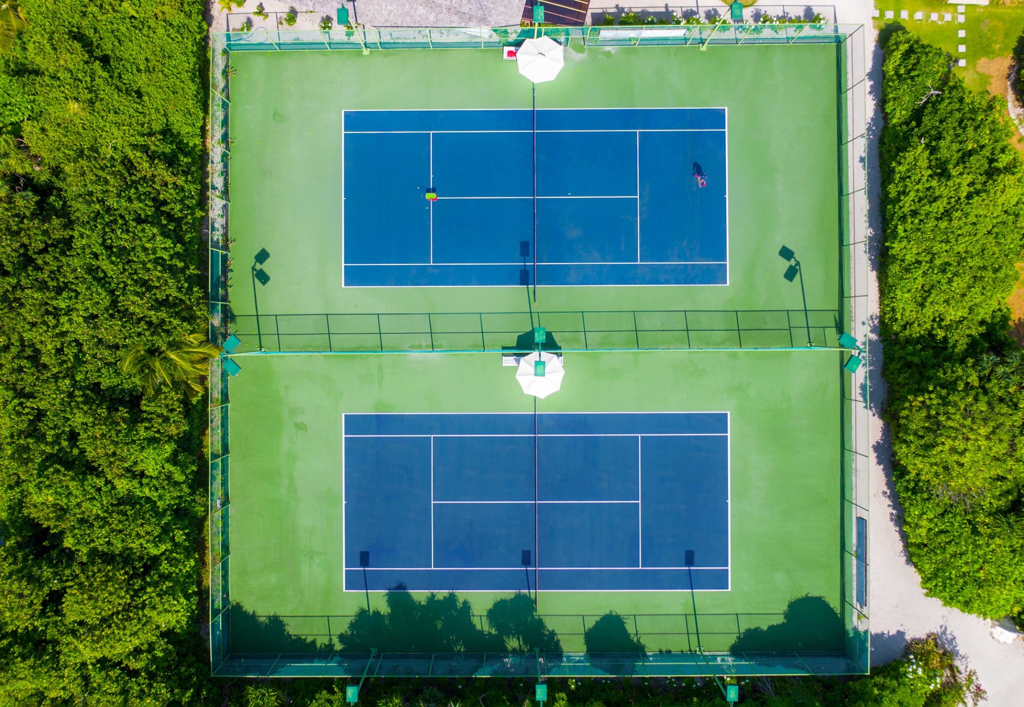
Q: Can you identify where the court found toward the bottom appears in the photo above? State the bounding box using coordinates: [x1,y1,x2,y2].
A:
[228,350,852,657]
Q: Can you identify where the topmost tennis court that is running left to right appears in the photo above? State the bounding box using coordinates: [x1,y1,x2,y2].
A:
[228,35,851,350]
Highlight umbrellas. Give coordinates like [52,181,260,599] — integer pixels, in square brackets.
[517,35,564,84]
[516,352,565,400]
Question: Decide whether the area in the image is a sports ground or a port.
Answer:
sports ground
